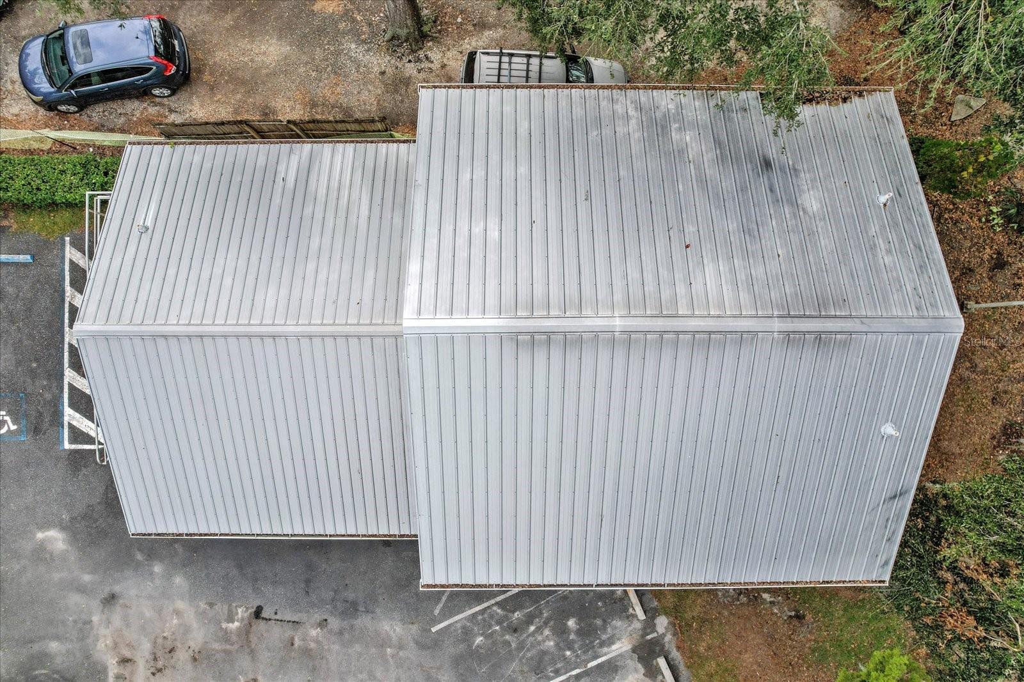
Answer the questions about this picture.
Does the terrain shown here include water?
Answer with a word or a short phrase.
No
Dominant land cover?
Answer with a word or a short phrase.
buildings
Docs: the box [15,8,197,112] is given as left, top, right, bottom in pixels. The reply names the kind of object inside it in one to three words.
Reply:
car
